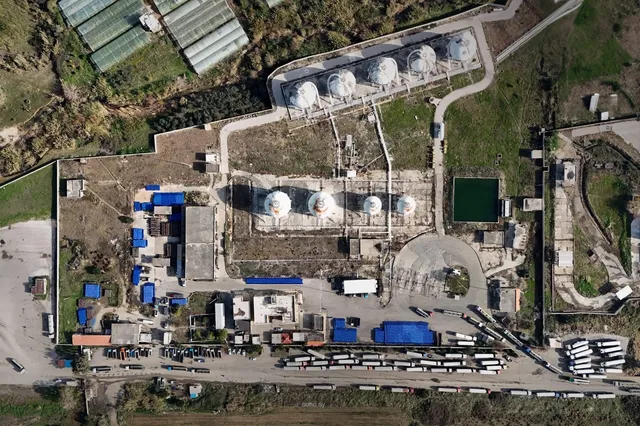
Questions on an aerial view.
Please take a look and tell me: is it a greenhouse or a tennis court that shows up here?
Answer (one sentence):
Looking from above, you can make out a greenhouse.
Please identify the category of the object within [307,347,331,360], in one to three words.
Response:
vehicle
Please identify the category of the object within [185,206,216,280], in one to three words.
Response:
building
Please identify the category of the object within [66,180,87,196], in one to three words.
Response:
shed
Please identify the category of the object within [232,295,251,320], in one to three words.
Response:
house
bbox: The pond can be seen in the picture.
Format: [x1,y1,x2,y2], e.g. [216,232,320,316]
[453,177,500,222]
